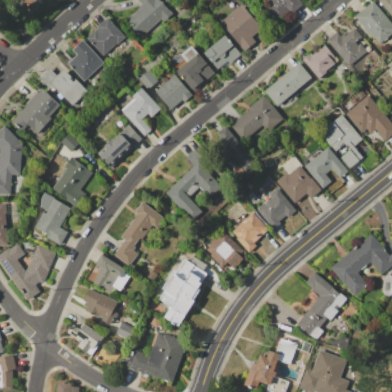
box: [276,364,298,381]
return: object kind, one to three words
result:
swimming pool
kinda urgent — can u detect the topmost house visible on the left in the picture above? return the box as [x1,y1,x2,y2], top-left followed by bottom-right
[130,0,174,35]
